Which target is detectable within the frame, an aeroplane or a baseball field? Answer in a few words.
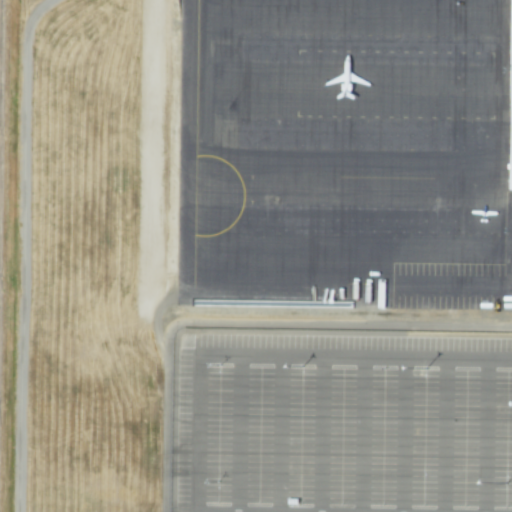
aeroplane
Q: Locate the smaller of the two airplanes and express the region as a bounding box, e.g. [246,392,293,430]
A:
[472,205,499,224]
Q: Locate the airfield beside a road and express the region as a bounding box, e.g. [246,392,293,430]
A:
[179,0,512,310]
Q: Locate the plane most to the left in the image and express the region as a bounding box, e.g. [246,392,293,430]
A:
[324,56,371,101]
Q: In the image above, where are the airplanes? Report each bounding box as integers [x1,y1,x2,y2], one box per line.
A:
[324,56,371,101]
[472,205,499,224]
